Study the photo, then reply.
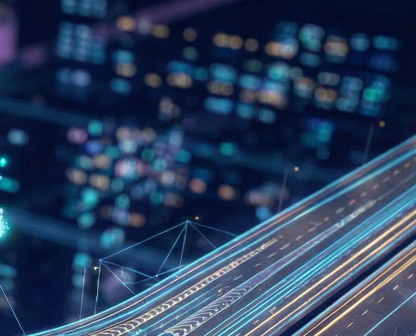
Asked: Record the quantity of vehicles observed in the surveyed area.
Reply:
0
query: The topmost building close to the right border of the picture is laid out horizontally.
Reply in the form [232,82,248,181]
[308,15,409,68]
